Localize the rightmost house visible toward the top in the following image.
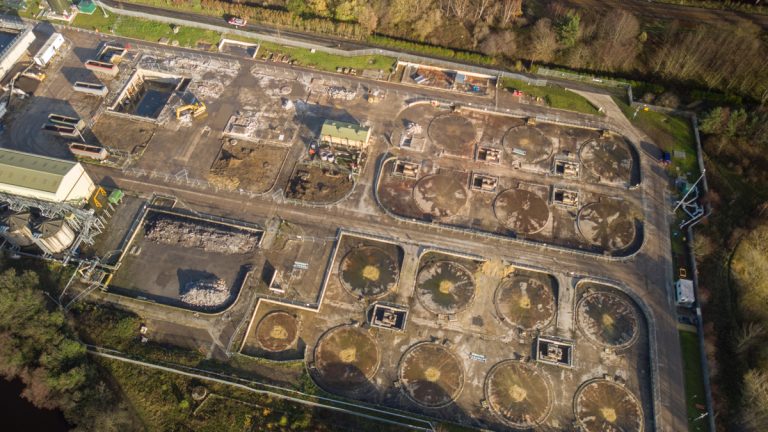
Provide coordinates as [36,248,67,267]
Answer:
[321,119,374,153]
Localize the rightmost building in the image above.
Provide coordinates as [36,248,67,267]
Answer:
[675,281,699,312]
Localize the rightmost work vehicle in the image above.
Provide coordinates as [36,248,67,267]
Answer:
[308,141,320,158]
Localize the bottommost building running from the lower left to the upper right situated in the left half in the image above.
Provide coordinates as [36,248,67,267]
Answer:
[31,31,67,68]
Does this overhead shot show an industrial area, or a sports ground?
industrial area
